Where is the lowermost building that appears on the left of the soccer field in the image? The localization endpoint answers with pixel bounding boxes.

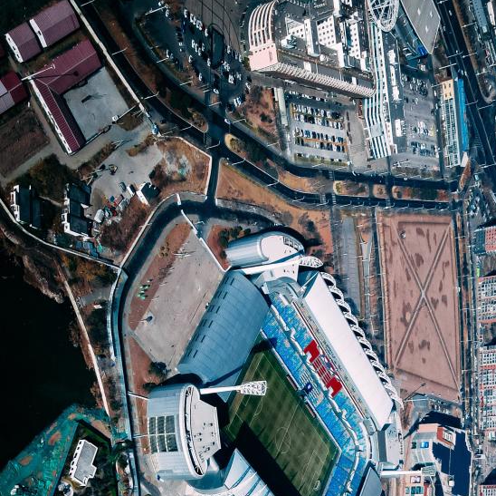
[62,439,99,487]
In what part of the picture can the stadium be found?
bottom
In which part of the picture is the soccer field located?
bottom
